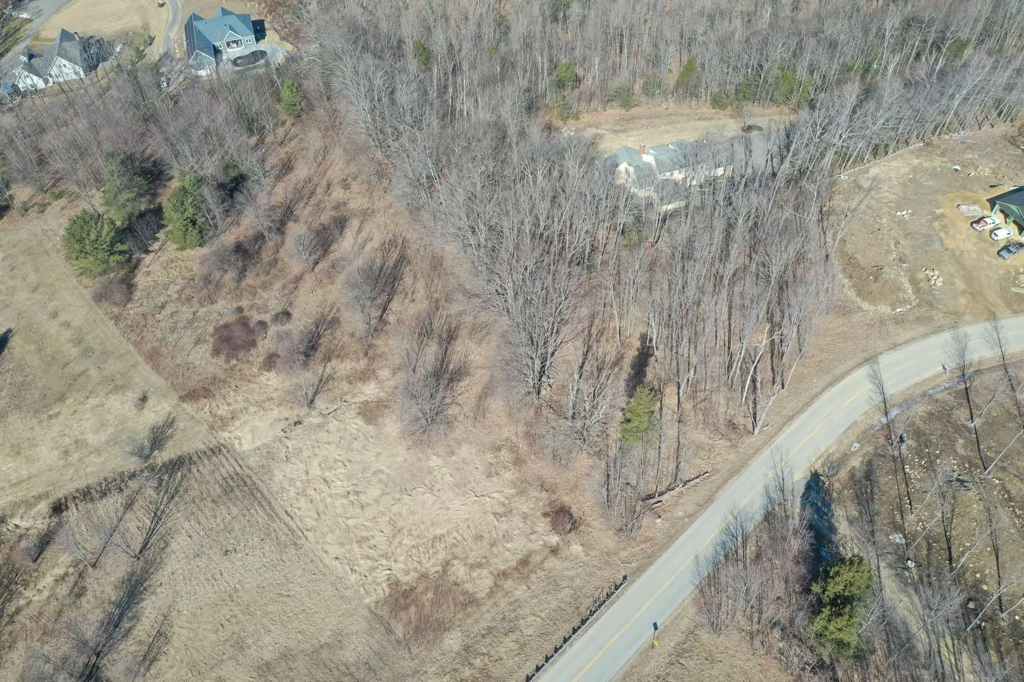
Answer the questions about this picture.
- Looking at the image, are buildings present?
Yes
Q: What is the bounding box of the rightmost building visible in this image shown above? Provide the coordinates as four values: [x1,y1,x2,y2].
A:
[992,190,1024,237]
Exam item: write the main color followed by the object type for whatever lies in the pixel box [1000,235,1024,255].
gray vehicle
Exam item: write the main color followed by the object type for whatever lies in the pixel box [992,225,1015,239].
white car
